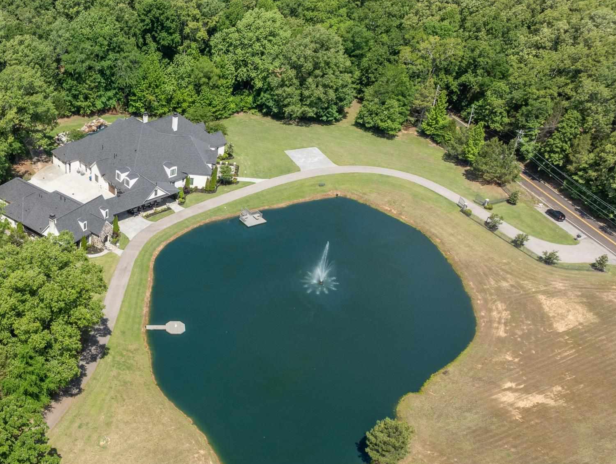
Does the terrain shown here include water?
Yes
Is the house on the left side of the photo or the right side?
left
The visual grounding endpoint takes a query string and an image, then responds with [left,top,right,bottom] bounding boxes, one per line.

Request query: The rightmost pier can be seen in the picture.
[239,207,267,229]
